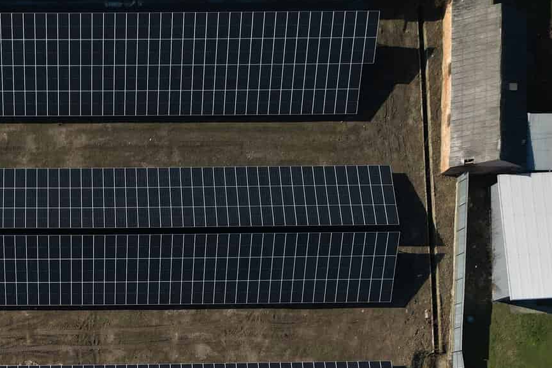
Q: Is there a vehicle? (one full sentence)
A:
No, the picture doesn't show any vehicle.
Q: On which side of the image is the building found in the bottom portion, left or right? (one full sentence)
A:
The building found in the bottom portion sits on the right side.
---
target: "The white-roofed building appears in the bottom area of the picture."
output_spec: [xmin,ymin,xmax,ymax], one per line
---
[480,172,552,306]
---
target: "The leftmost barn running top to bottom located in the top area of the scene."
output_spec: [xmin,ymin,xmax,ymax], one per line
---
[440,1,525,177]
